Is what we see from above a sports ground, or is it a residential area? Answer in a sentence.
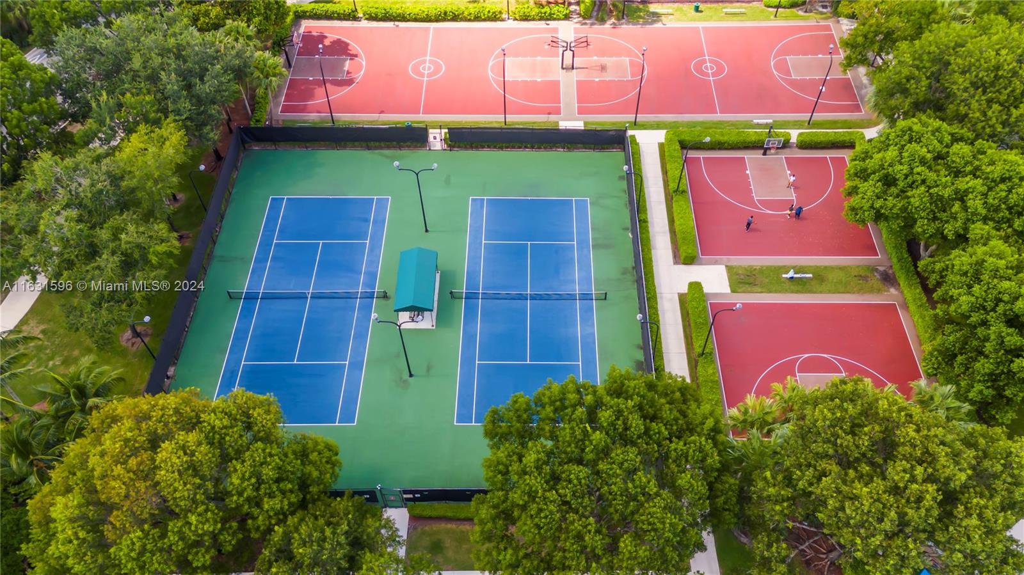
What you see here is a sports ground.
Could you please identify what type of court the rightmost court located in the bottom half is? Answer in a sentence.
Specifically, the rightmost court located in the bottom half is a basketball court.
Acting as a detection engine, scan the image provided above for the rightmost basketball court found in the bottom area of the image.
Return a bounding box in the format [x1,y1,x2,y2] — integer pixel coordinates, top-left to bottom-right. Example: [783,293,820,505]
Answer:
[709,301,944,440]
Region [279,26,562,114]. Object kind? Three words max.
basketball court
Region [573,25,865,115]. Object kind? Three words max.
basketball court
